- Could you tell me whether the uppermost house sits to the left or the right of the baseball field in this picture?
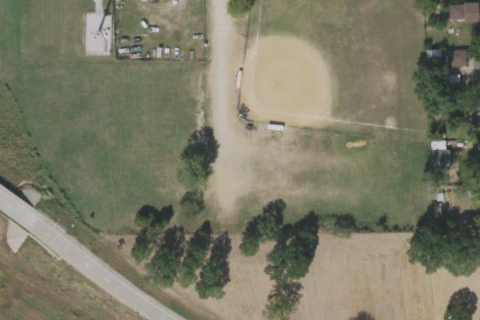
right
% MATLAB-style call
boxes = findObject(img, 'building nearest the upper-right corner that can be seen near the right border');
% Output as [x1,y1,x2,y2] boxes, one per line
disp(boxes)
[450,2,480,22]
